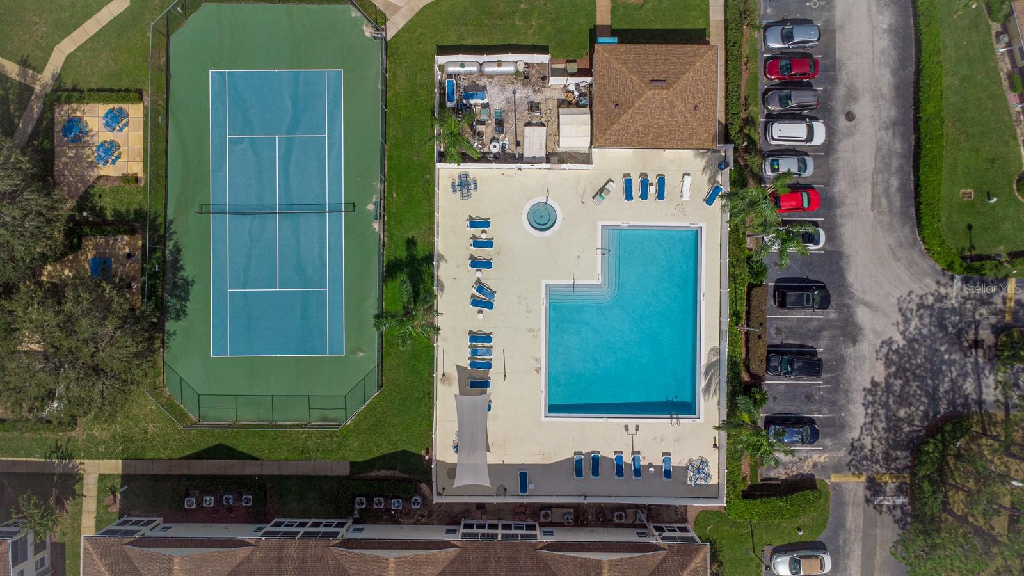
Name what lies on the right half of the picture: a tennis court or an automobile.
automobile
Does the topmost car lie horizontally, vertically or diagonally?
horizontally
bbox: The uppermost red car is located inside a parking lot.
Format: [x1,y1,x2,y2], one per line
[762,55,820,84]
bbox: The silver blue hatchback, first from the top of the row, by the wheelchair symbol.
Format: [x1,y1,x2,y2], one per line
[763,22,822,52]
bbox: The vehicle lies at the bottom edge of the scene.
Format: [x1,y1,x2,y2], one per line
[770,548,831,576]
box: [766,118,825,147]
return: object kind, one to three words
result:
car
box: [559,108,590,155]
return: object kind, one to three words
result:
shed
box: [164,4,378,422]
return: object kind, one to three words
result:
tennis court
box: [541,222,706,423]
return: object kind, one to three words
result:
swimming pool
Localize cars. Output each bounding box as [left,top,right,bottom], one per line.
[770,421,820,448]
[770,548,831,576]
[760,153,814,179]
[772,283,830,310]
[765,352,827,380]
[761,85,824,114]
[766,118,825,147]
[791,225,825,251]
[762,55,820,84]
[763,22,822,52]
[767,188,821,214]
